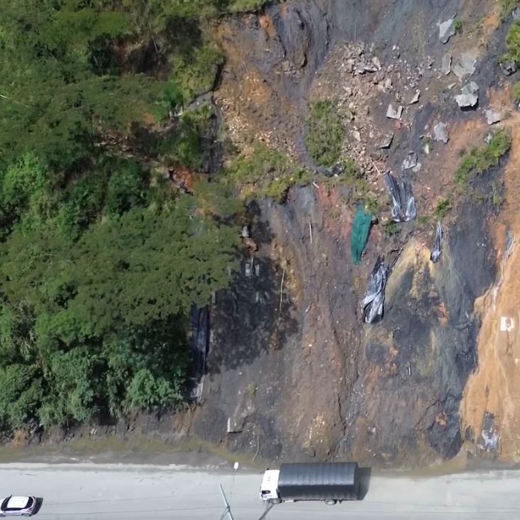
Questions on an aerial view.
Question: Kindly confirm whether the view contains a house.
No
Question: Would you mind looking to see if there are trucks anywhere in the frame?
Yes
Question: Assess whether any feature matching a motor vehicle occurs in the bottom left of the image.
Yes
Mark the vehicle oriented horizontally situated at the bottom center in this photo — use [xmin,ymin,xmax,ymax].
[261,464,362,504]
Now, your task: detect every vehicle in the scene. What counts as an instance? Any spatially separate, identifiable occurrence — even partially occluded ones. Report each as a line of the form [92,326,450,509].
[261,464,362,504]
[0,493,38,517]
